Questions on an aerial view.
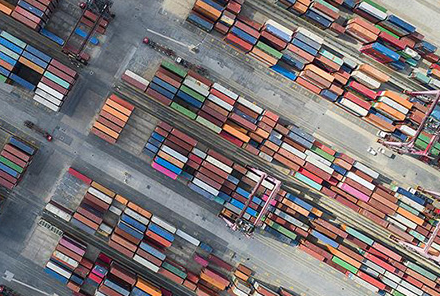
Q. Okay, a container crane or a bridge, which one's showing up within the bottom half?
container crane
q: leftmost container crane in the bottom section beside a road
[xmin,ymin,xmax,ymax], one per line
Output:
[214,163,282,240]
